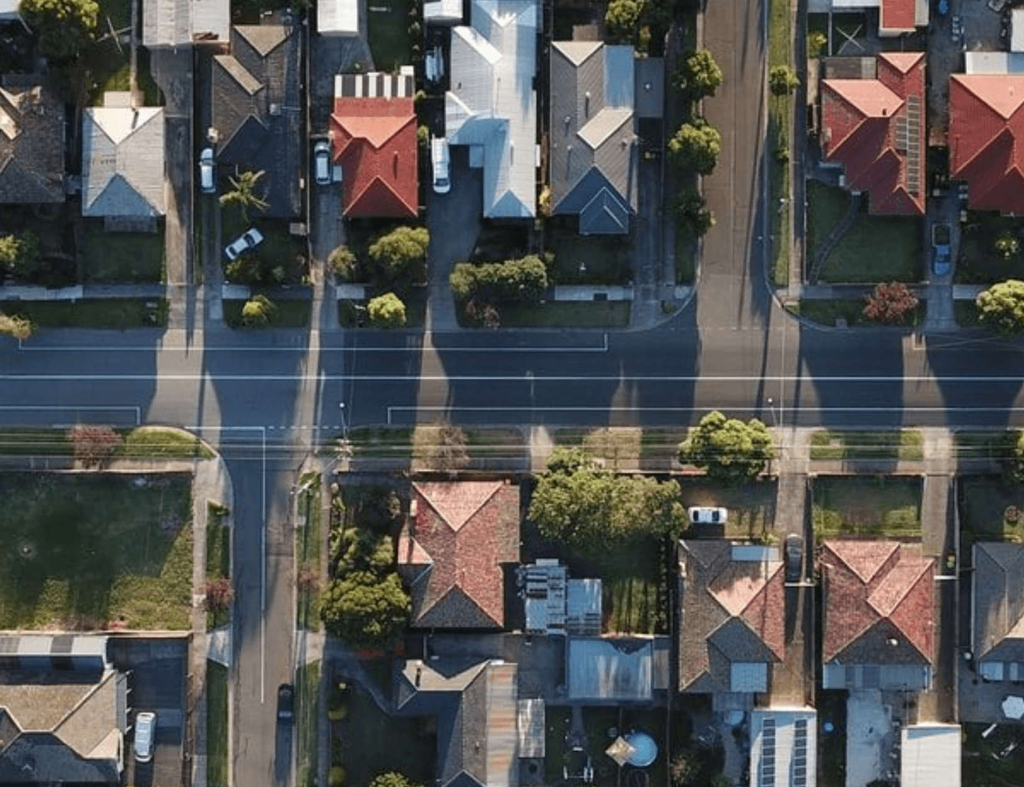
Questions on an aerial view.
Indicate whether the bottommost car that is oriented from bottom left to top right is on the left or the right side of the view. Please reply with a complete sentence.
You can find the bottommost car that is oriented from bottom left to top right on the left side of the picture.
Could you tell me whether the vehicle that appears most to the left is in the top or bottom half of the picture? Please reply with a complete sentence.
The vehicle that appears most to the left is in the bottom half of the image.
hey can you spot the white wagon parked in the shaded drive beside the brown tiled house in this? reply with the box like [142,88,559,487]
[196,147,215,190]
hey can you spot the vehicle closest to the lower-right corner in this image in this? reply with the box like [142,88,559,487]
[785,536,805,583]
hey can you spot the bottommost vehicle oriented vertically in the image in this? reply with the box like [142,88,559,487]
[131,712,155,764]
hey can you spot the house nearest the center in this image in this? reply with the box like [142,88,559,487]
[396,481,521,629]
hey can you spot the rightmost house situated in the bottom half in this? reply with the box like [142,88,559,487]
[967,541,1024,679]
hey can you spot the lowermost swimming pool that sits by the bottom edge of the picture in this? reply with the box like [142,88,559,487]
[627,732,660,769]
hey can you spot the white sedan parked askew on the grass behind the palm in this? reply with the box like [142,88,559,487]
[224,226,264,259]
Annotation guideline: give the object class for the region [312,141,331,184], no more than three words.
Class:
car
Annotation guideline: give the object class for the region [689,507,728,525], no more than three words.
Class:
car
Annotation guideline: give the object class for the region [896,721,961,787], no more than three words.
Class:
building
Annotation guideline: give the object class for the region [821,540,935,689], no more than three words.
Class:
house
